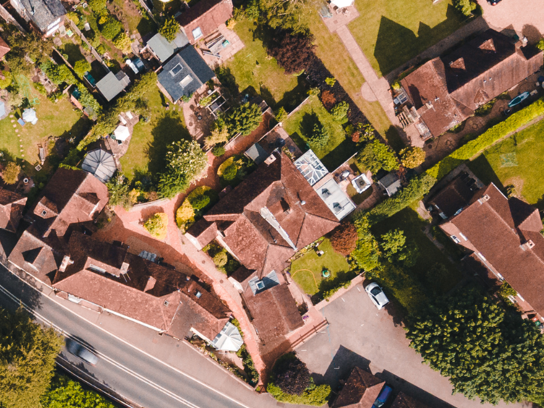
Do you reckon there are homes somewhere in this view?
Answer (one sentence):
Yes, this view includes a home.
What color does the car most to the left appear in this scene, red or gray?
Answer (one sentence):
In this view, the car most to the left is gray.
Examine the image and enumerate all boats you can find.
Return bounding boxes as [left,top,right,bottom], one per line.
[510,93,530,106]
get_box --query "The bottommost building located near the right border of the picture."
[421,172,544,337]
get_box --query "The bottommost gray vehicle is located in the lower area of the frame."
[62,337,99,365]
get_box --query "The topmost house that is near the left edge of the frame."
[11,0,65,48]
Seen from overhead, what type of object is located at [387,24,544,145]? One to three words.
house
